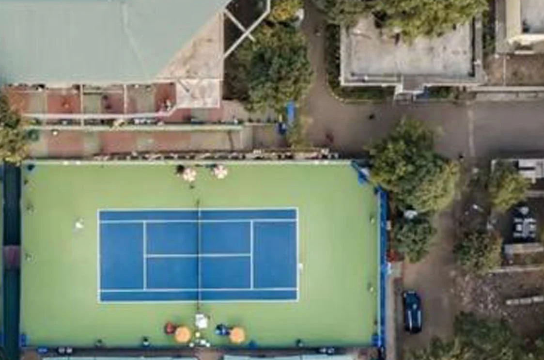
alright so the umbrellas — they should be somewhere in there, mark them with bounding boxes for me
[214,166,227,178]
[231,328,245,342]
[175,328,190,342]
[182,167,196,180]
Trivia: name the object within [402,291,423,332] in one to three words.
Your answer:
car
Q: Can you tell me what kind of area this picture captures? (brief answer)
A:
sports ground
